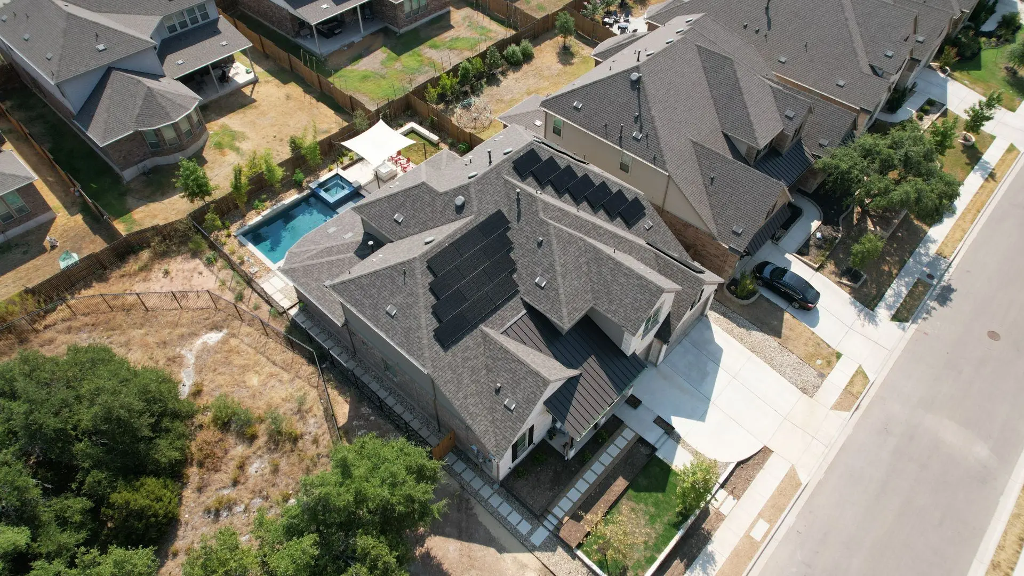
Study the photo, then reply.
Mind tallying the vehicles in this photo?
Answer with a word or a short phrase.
1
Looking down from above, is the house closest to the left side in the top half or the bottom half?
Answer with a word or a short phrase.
top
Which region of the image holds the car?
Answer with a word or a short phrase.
right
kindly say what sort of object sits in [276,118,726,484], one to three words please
house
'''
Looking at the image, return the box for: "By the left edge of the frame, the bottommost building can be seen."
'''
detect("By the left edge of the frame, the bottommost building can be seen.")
[0,149,57,246]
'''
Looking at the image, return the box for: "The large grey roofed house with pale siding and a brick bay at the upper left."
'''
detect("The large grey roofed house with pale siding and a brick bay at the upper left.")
[0,0,259,182]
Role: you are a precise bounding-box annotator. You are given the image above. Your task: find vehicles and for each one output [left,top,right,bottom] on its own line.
[751,260,828,309]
